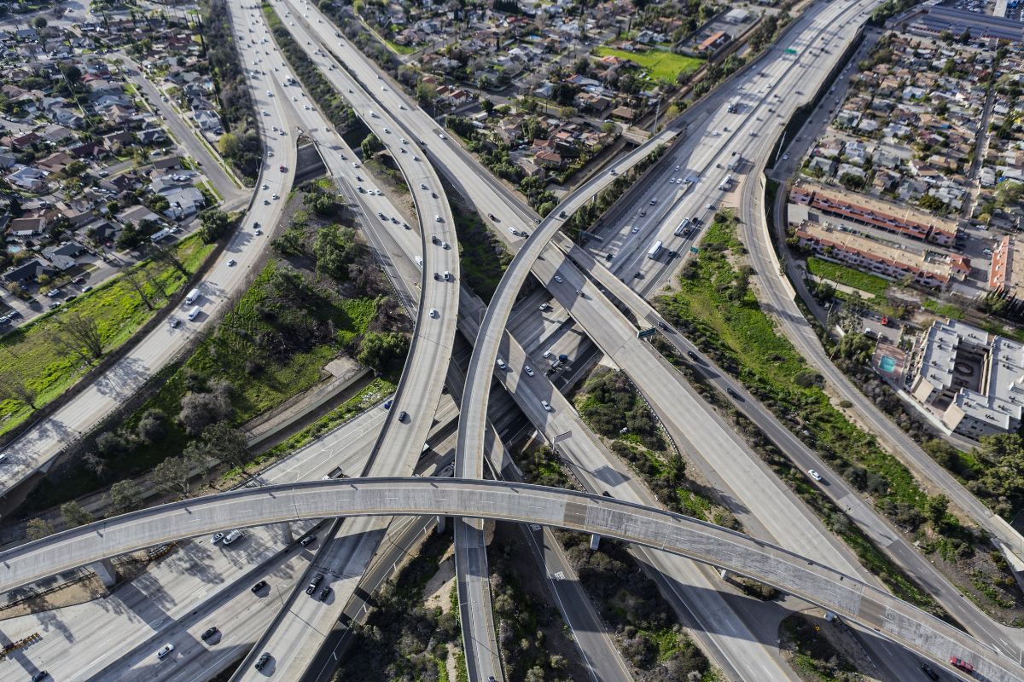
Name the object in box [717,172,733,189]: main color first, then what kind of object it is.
white vehicle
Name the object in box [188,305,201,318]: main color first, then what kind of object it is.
white vehicle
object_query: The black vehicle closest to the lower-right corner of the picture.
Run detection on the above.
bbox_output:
[921,662,941,682]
